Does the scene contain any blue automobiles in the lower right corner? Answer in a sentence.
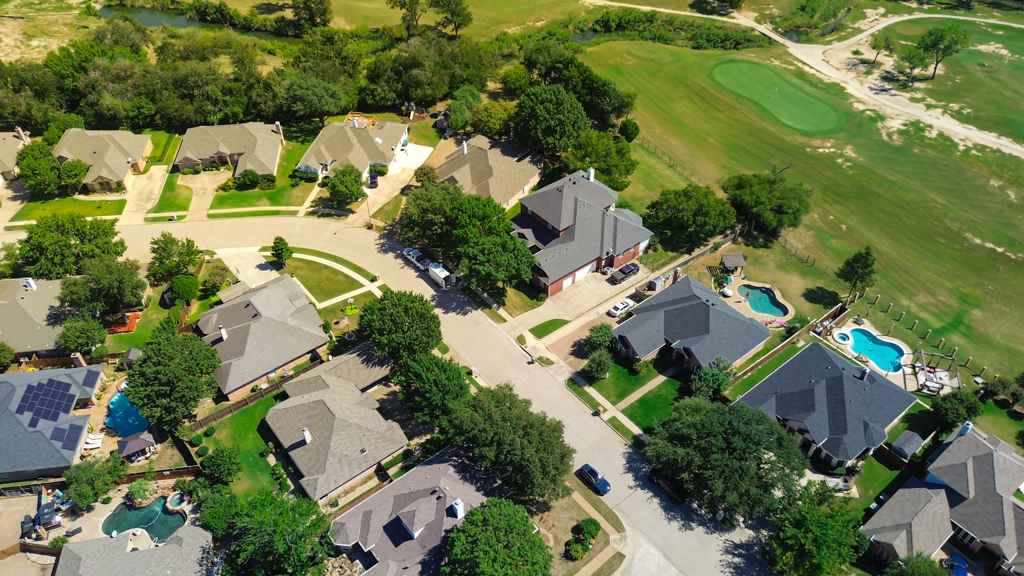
Yes, a blue automobile appears in the lower right corner.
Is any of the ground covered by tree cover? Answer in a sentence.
Yes, there is tree cover in the image.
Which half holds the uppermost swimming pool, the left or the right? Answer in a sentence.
The uppermost swimming pool sits on the right side.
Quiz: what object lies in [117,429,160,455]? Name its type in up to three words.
gazebo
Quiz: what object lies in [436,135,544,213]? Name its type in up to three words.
house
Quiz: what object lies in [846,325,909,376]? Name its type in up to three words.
swimming pool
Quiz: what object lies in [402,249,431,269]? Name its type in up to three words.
vehicle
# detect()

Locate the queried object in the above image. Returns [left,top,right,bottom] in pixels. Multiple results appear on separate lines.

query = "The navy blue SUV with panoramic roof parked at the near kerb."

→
[579,463,612,495]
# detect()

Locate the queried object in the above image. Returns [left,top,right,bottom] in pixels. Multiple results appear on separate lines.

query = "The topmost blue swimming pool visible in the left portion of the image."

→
[101,391,152,439]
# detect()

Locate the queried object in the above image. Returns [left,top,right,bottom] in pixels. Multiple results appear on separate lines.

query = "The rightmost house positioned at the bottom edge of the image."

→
[864,418,1024,576]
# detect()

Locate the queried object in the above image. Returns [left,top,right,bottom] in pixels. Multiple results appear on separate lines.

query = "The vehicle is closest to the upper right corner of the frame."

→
[610,262,639,280]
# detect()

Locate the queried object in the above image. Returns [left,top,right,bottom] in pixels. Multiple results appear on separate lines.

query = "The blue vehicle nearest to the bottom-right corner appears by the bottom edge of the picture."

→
[949,555,970,576]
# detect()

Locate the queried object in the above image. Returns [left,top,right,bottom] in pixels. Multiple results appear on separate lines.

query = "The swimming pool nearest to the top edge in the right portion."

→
[735,283,790,318]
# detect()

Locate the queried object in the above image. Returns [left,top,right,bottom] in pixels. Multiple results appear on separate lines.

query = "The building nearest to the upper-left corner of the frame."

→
[0,126,32,182]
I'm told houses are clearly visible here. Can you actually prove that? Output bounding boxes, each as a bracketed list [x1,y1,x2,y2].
[509,166,654,293]
[436,135,544,213]
[197,273,330,402]
[756,342,919,471]
[174,121,286,189]
[0,350,106,484]
[0,126,32,182]
[864,418,1024,576]
[612,266,771,375]
[329,445,512,576]
[53,127,153,195]
[55,527,226,576]
[265,343,409,500]
[296,118,409,183]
